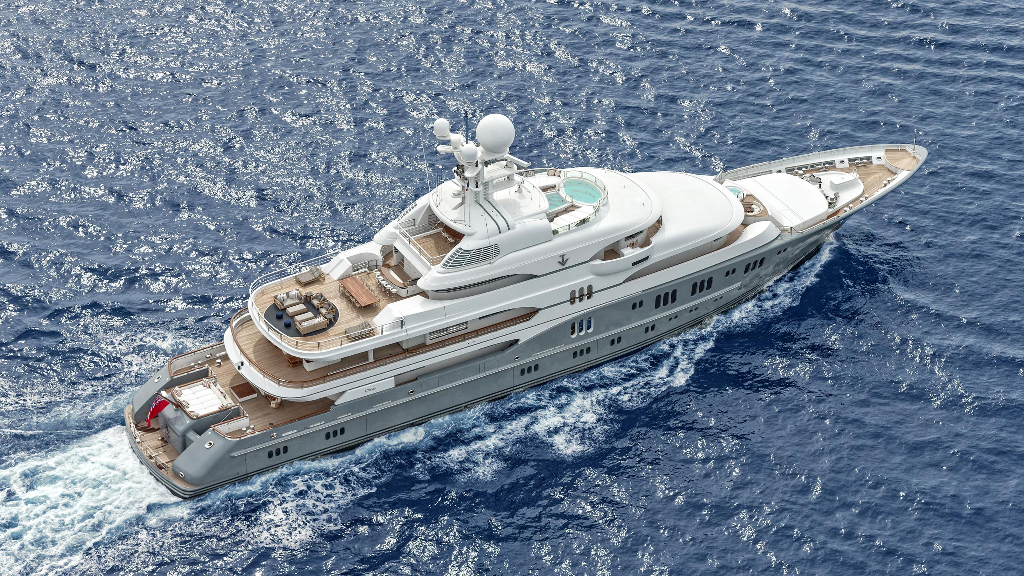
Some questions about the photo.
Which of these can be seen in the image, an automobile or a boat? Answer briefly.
boat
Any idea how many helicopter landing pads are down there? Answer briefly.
none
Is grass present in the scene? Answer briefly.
No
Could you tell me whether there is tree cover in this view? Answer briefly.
No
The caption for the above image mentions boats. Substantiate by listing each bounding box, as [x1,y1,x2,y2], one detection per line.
[122,108,928,496]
